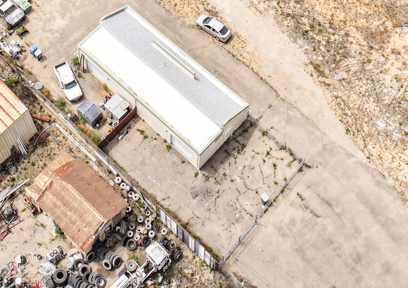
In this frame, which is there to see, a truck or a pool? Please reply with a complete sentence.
I can see a truck in this picture.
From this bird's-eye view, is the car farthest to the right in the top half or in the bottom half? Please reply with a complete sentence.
The car farthest to the right is in the top half of the image.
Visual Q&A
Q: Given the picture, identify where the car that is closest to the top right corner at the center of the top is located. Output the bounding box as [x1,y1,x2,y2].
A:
[193,15,231,44]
